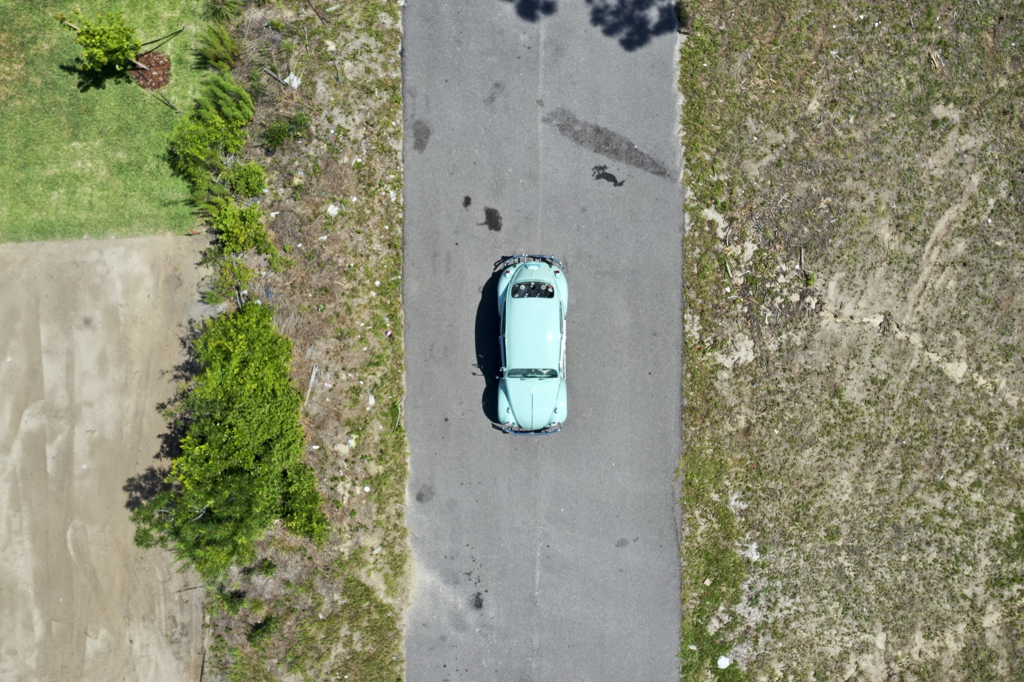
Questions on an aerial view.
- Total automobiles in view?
1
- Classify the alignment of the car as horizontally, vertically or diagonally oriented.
vertically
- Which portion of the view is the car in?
center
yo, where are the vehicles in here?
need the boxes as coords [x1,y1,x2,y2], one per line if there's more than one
[496,253,568,437]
